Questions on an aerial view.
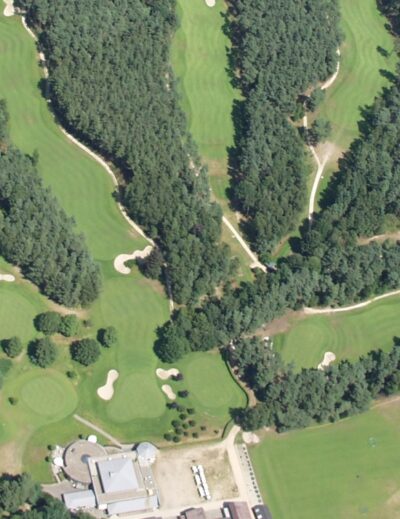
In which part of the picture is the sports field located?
bottom right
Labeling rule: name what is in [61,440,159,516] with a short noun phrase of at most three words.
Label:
building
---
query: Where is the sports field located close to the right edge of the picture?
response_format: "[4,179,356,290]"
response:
[252,394,400,519]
